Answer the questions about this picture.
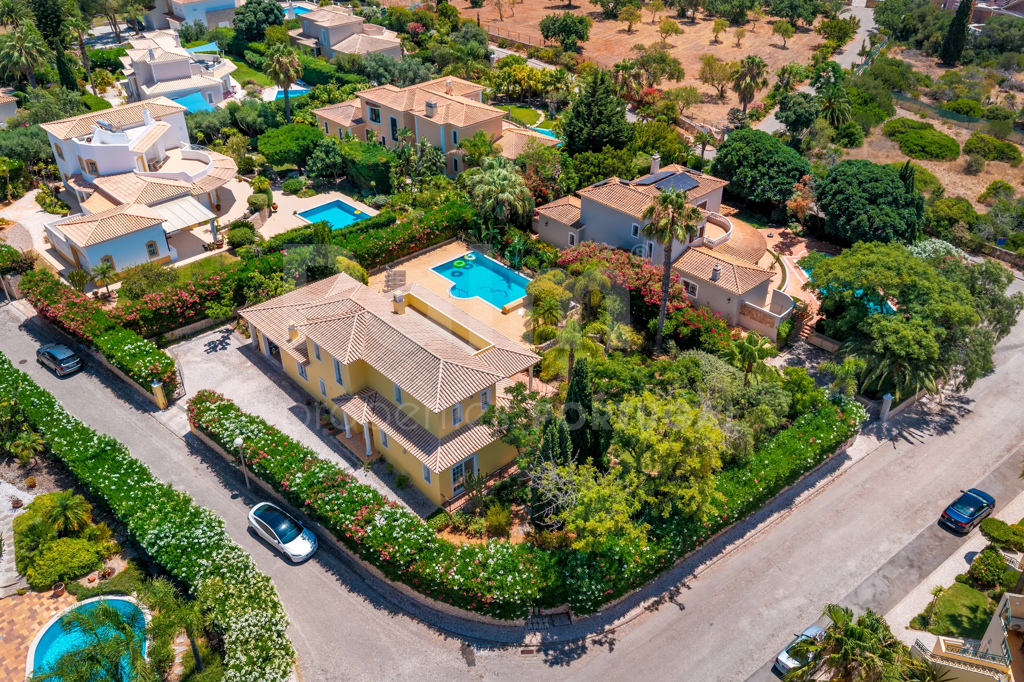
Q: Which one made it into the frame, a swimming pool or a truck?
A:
swimming pool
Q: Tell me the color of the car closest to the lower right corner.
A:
blue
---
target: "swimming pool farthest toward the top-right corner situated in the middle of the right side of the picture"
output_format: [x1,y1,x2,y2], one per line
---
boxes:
[792,250,892,318]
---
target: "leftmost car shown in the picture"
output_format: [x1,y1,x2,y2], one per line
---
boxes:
[37,338,86,376]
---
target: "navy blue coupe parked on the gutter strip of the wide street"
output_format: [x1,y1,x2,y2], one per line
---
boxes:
[940,487,997,533]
